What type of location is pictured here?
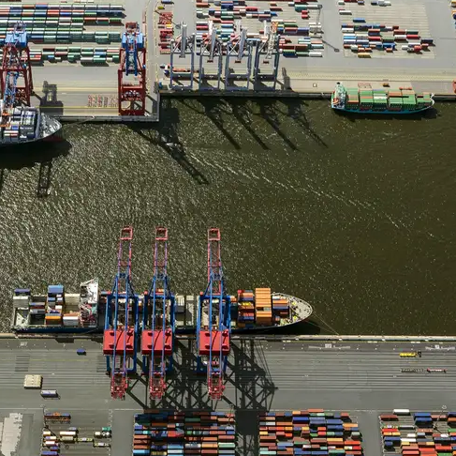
port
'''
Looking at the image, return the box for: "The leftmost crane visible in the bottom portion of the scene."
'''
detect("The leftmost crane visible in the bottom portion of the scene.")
[100,229,143,400]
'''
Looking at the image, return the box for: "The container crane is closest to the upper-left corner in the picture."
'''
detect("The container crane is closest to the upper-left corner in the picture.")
[0,22,36,133]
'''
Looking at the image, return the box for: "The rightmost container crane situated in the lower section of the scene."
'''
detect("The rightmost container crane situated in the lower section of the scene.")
[189,230,236,402]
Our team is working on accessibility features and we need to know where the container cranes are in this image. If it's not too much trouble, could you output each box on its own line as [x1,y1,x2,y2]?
[193,23,224,93]
[165,23,197,93]
[0,22,36,133]
[253,23,286,93]
[136,229,182,402]
[189,230,236,402]
[100,229,143,400]
[222,23,253,93]
[112,22,153,115]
